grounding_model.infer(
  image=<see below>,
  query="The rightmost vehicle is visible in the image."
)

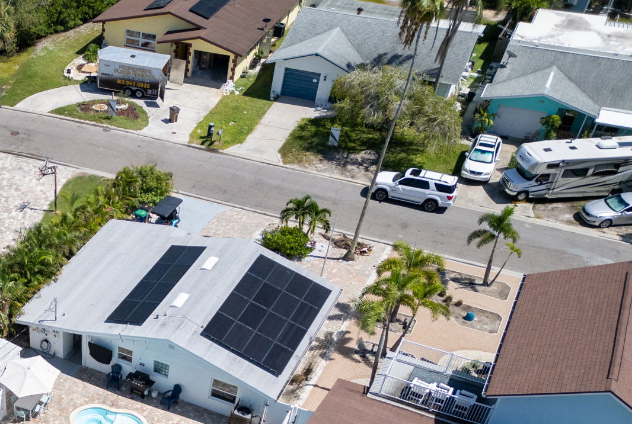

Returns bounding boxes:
[577,191,632,227]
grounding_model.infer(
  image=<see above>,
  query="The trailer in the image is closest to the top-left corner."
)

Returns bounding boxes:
[92,47,181,98]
